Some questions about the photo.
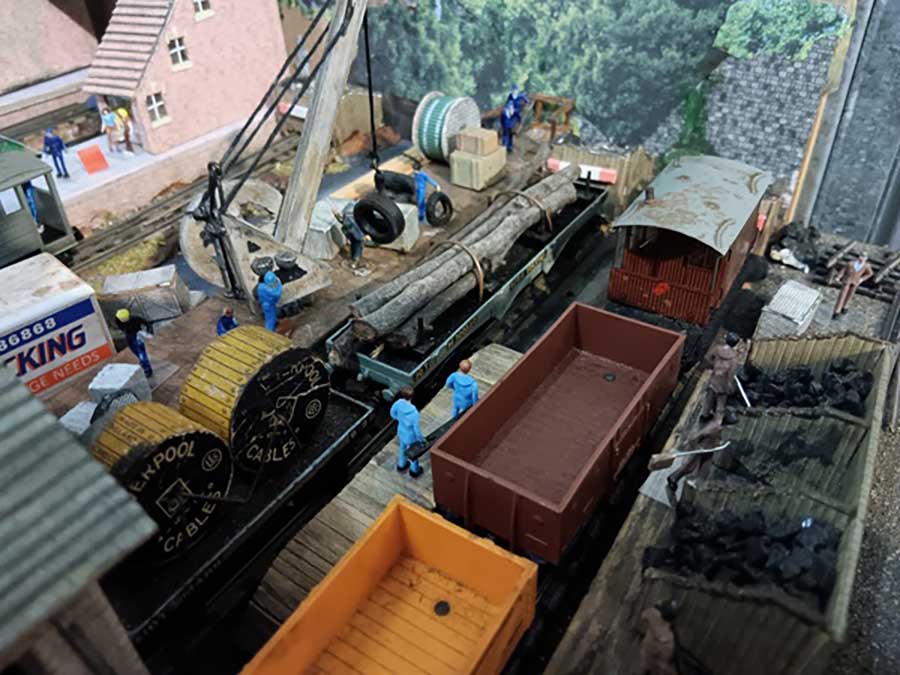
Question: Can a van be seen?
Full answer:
Yes, there's a van down there.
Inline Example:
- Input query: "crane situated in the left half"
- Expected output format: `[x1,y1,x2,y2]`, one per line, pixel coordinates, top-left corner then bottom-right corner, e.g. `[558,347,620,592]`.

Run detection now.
[167,0,380,324]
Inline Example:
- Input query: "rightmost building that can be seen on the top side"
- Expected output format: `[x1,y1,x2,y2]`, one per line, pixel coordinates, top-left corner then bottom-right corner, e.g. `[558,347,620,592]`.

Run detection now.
[74,0,291,153]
